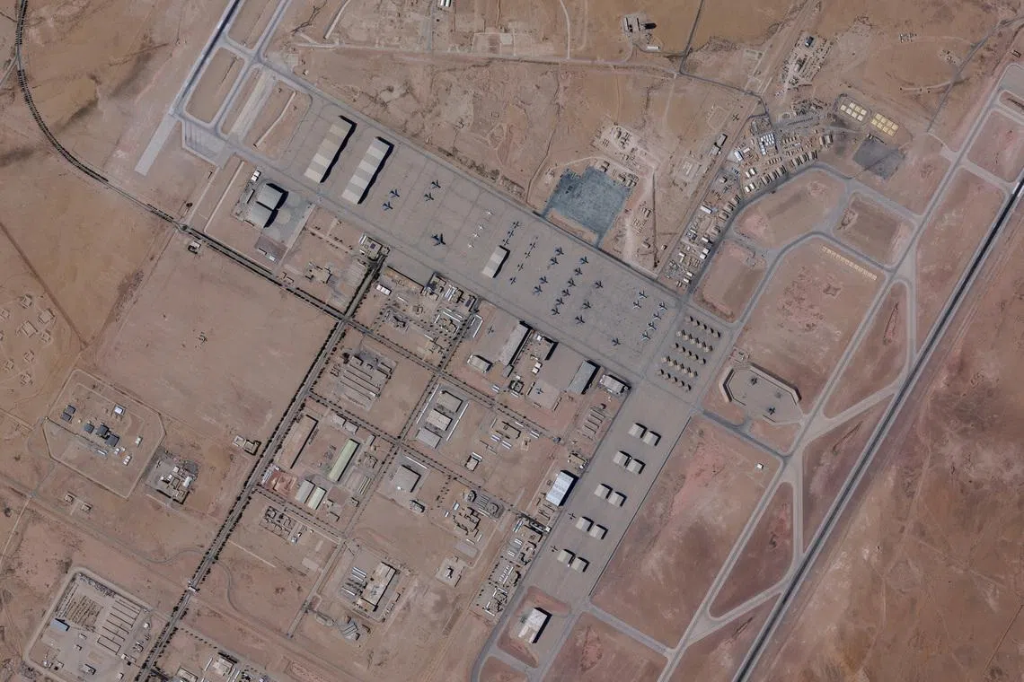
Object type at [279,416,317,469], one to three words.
building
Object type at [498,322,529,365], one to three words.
hangar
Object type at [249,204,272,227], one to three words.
hangar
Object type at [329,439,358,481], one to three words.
building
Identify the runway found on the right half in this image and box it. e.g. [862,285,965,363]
[730,167,1024,682]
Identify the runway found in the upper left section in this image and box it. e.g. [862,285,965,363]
[166,0,241,118]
